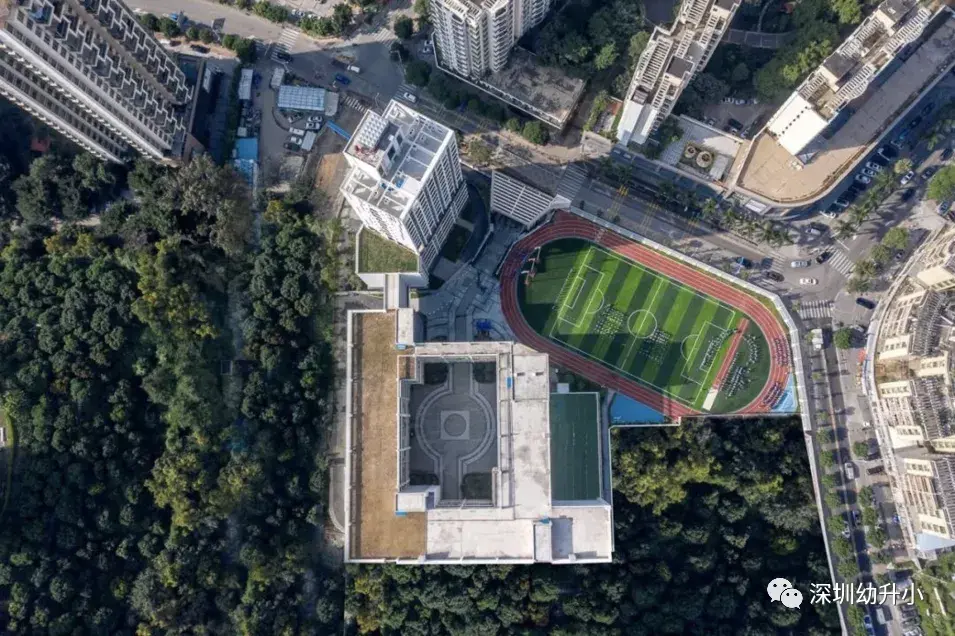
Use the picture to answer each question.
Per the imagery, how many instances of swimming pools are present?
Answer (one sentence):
The count of swimming pools is 0.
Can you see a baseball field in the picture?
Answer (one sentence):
No, no baseball field is visible in the scene.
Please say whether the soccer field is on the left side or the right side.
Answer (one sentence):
The soccer field is on the right side of the image.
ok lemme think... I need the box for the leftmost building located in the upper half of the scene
[0,0,201,177]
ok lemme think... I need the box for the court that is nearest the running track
[549,390,604,498]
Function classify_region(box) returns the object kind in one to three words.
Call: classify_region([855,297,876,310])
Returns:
vehicle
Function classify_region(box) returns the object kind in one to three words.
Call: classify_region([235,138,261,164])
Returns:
shed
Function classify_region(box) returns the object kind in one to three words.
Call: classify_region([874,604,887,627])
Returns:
vehicle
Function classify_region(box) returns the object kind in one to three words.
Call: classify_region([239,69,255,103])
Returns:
building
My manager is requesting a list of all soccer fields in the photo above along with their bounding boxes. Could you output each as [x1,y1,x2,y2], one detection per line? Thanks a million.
[516,236,769,412]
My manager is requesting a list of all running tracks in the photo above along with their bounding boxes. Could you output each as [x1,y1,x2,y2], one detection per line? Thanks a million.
[500,213,788,431]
